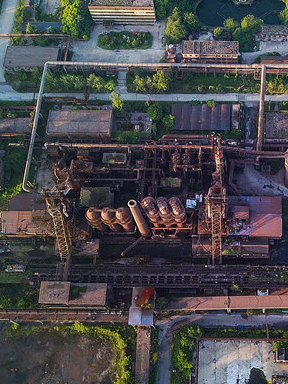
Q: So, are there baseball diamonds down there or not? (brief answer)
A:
No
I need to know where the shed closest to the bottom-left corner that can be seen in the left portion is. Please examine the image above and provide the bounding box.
[38,282,73,308]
